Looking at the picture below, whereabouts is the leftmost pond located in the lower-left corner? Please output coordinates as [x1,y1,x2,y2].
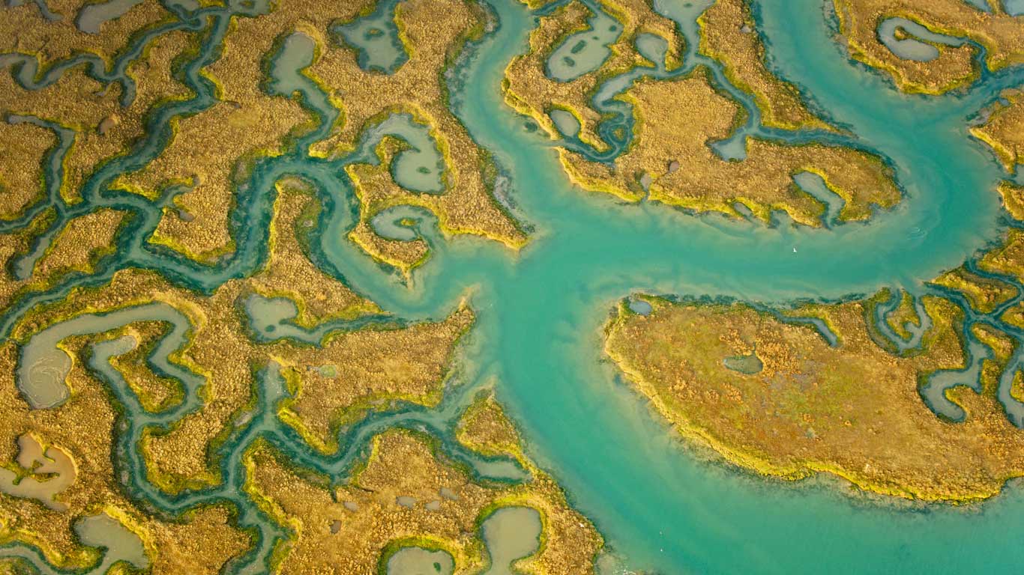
[0,435,76,511]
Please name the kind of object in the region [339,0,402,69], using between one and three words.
pond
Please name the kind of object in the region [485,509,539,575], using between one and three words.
pond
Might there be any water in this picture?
Yes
